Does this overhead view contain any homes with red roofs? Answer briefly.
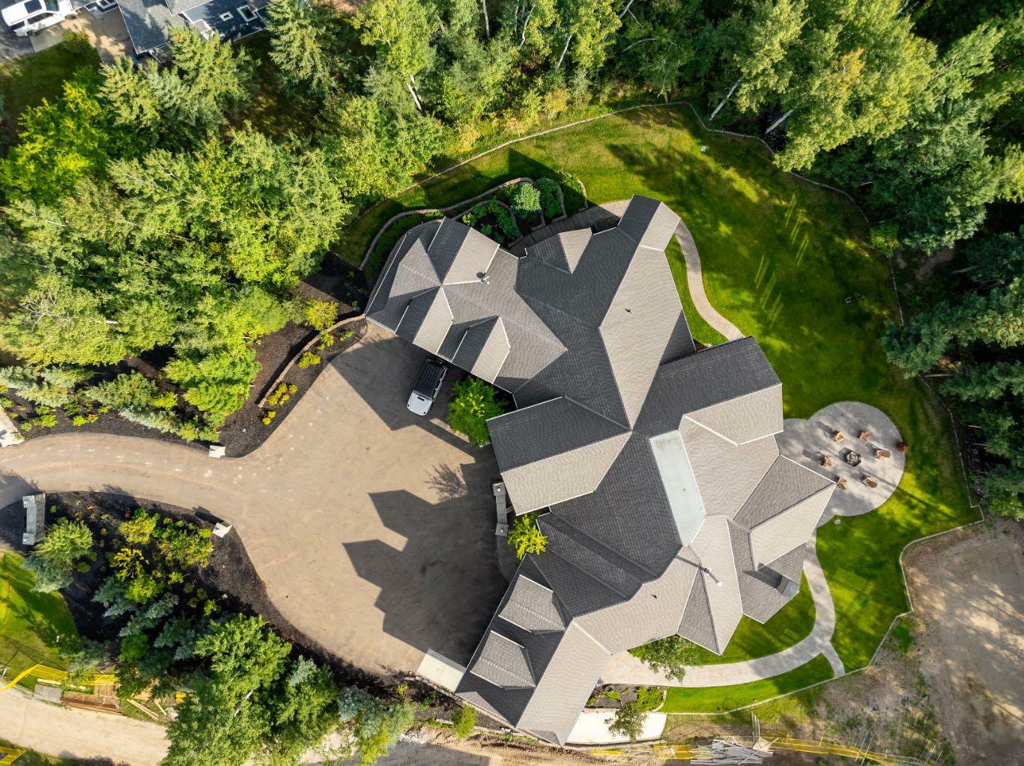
No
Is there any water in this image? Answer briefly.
No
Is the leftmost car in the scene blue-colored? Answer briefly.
No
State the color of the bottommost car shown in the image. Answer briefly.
black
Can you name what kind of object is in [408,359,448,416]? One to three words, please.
car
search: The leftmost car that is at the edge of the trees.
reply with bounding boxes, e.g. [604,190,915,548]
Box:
[3,0,75,41]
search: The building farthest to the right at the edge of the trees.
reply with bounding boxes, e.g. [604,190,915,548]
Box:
[365,194,836,748]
